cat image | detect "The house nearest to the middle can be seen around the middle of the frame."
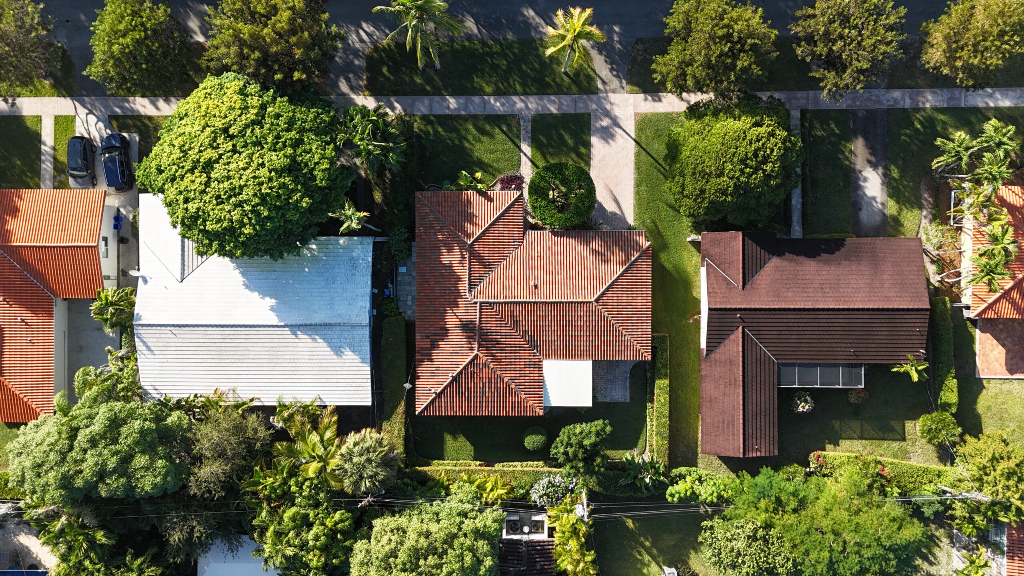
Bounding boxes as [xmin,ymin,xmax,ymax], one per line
[414,190,653,416]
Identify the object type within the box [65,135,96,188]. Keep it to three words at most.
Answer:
car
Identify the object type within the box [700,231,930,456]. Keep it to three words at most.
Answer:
house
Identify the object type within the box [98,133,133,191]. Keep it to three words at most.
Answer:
car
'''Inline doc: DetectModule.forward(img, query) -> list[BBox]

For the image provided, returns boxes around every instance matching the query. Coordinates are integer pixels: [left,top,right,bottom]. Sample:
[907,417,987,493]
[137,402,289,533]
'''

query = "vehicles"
[98,133,133,191]
[65,135,96,188]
